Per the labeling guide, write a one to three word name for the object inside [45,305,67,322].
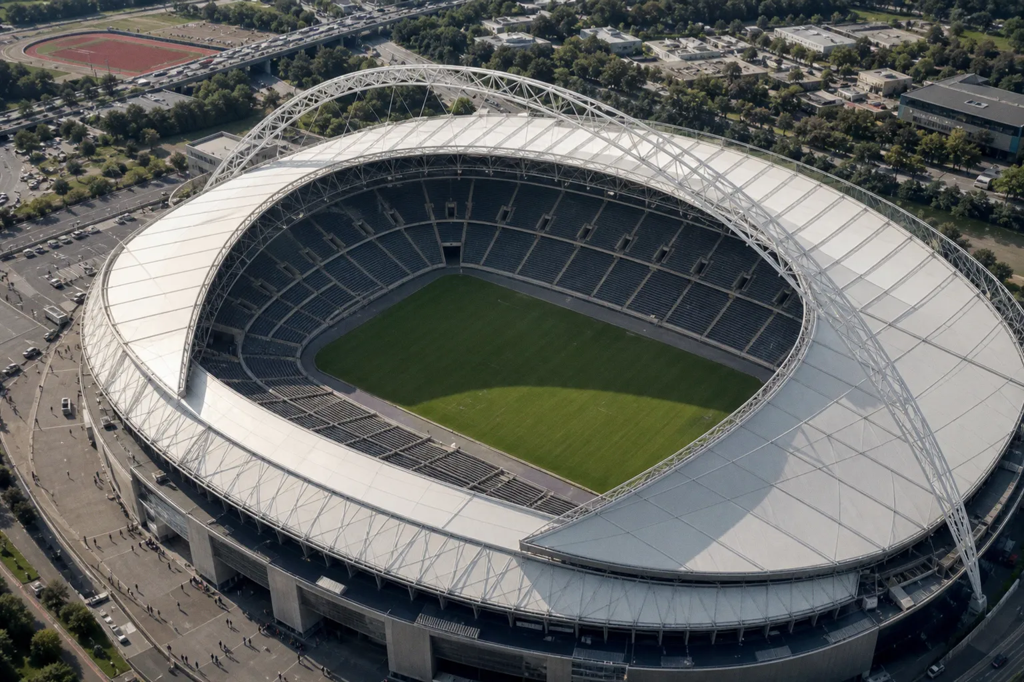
vehicle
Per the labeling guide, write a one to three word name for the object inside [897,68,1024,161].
building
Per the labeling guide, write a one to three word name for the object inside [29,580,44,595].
car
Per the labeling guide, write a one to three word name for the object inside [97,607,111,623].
car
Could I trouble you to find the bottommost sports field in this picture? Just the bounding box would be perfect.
[308,271,760,498]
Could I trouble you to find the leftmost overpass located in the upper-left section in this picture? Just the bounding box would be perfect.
[0,0,517,143]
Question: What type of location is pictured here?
sports ground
